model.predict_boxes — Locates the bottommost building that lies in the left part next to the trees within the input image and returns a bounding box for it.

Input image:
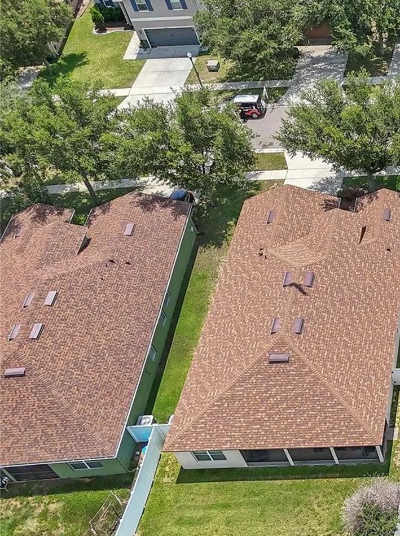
[0,189,197,486]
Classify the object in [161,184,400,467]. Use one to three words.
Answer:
house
